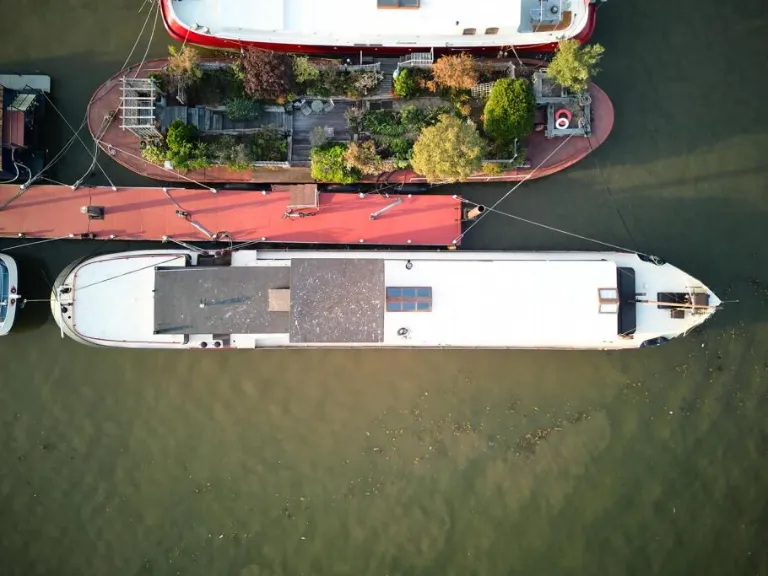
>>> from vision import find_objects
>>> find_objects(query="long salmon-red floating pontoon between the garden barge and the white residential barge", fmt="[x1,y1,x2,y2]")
[0,184,474,246]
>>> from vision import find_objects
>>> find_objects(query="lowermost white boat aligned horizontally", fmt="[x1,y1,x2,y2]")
[50,248,739,351]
